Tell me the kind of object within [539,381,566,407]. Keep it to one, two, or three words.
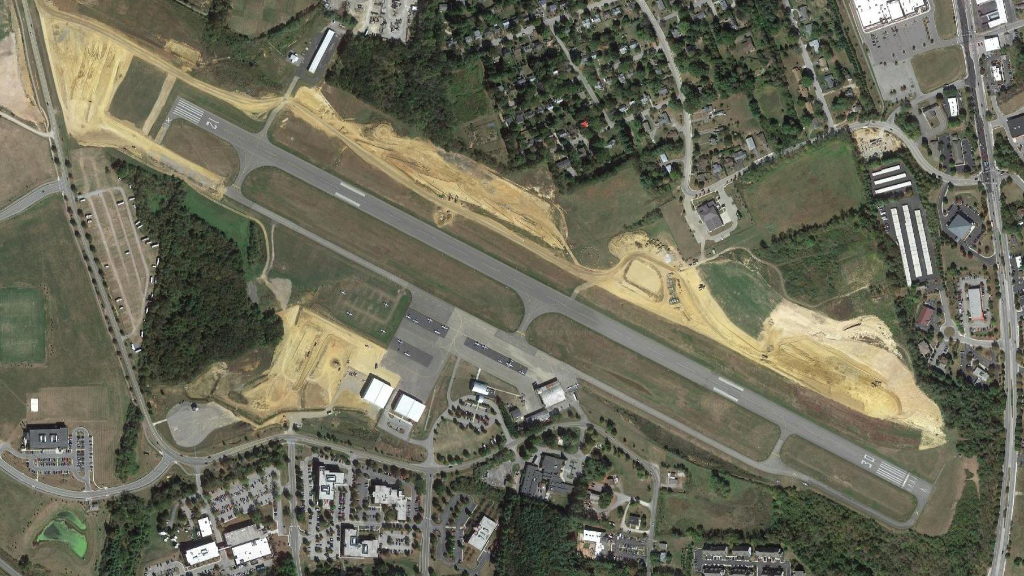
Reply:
hangar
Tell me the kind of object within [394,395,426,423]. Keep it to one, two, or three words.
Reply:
hangar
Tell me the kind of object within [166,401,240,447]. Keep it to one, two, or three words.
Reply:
helipad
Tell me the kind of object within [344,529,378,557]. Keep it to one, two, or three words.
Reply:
building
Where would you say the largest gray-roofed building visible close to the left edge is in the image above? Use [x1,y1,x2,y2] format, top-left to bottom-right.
[29,428,68,449]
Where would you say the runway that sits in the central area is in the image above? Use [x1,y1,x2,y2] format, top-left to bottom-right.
[171,97,933,500]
